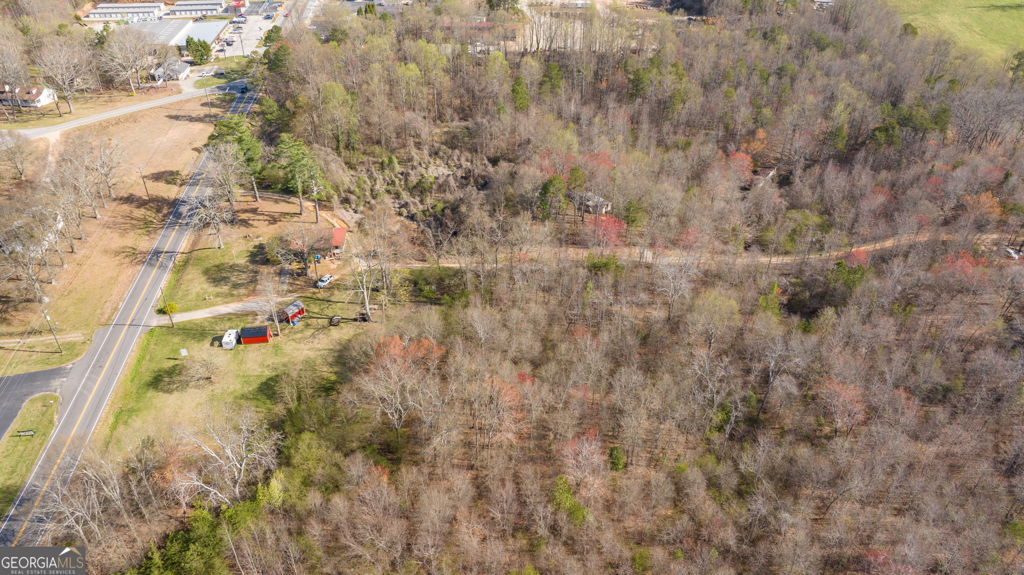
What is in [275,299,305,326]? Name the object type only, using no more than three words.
shed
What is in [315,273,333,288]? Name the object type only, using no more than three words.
car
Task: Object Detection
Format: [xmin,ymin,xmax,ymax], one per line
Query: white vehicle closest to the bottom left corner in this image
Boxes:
[218,324,240,349]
